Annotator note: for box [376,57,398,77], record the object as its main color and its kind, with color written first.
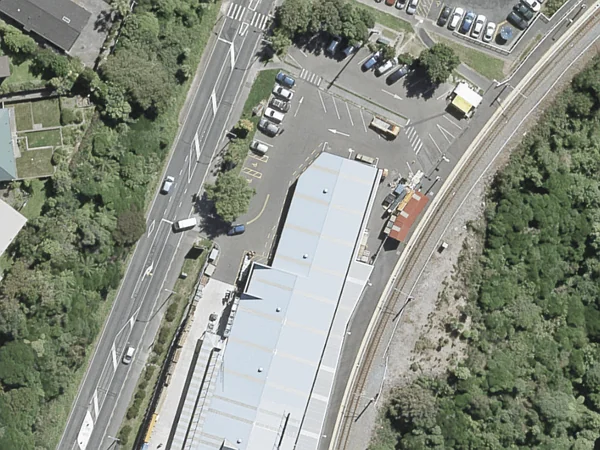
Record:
white car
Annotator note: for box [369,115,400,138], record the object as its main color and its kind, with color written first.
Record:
white truck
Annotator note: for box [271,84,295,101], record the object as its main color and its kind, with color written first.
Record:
white car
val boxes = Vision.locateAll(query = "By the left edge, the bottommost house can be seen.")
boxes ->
[0,198,28,253]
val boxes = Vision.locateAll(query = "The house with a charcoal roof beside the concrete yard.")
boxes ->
[0,0,91,52]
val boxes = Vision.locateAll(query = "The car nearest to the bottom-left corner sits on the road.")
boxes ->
[122,343,136,366]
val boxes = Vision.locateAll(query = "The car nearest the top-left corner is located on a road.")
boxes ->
[160,173,176,195]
